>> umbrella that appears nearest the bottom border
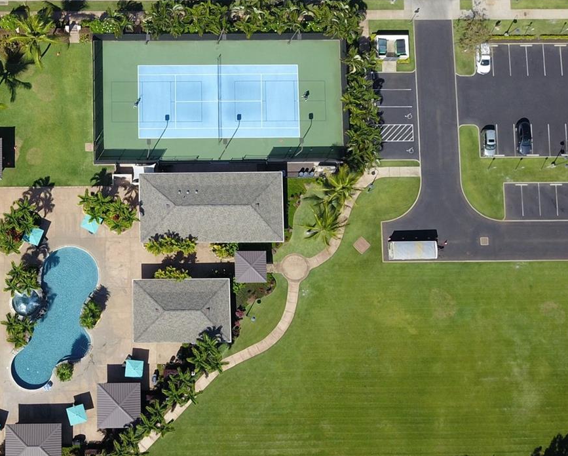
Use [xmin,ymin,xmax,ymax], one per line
[67,404,88,426]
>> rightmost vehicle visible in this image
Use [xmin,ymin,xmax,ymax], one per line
[516,122,535,156]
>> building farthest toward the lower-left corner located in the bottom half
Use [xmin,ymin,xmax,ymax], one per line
[5,423,62,456]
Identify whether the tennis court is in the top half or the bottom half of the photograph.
top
